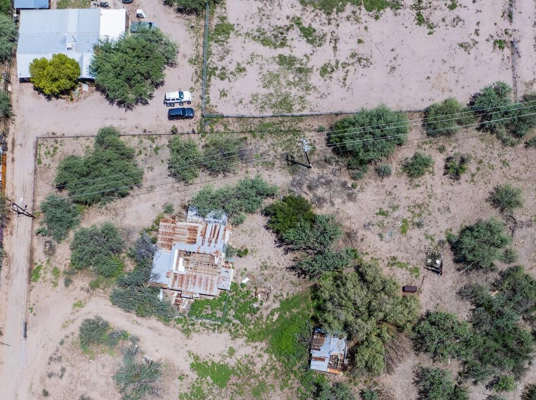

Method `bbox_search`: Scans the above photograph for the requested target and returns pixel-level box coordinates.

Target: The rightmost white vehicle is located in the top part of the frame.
[164,91,194,107]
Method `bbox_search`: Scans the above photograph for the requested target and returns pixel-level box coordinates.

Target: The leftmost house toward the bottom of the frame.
[151,206,233,307]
